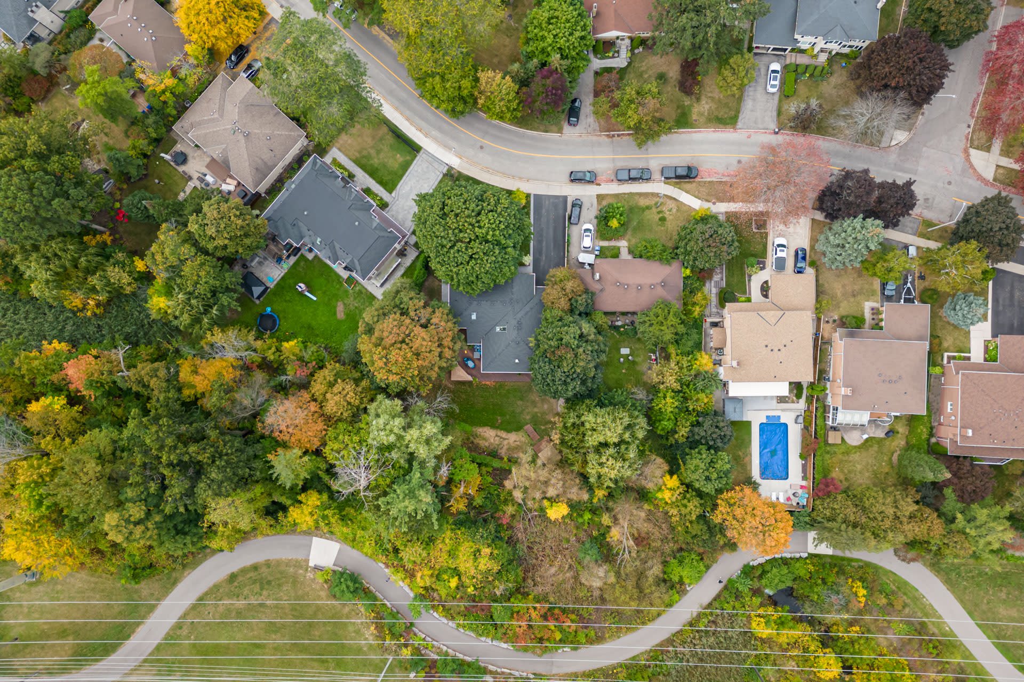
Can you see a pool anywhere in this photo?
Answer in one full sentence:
Yes, there is a pool in the image.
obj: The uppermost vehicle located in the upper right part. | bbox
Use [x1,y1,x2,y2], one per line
[766,62,782,92]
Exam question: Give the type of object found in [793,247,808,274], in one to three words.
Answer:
car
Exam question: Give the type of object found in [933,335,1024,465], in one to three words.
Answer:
house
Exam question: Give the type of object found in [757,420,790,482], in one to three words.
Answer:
swimming pool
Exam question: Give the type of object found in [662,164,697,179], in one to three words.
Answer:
vehicle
